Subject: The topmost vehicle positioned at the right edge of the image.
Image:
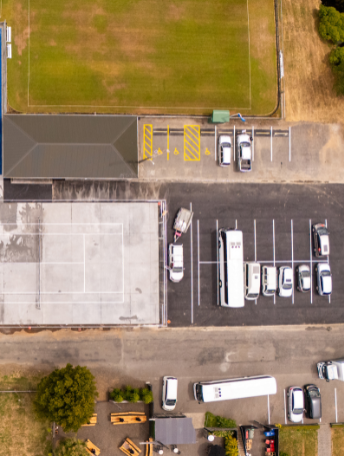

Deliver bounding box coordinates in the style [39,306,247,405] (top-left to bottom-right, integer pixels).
[311,223,329,258]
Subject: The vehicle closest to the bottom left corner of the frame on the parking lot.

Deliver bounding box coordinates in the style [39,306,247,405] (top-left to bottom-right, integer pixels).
[162,375,179,411]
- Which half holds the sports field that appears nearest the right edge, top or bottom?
top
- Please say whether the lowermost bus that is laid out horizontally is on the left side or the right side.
right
